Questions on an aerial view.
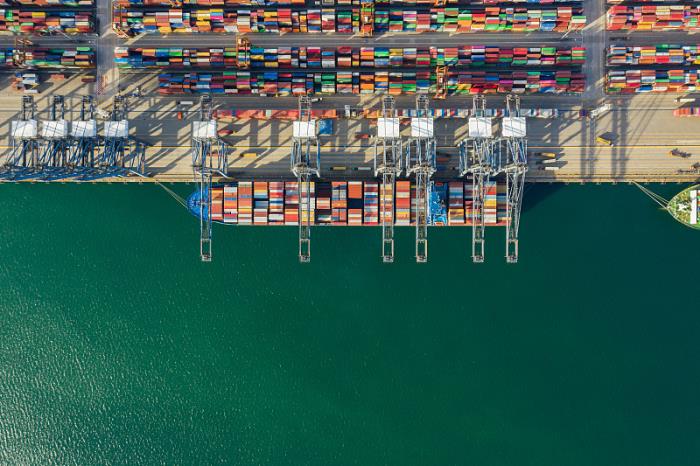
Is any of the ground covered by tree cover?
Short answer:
No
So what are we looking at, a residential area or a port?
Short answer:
port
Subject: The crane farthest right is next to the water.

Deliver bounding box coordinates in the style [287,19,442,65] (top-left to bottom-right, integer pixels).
[485,98,527,262]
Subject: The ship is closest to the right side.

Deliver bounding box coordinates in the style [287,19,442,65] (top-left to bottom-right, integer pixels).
[665,184,700,231]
